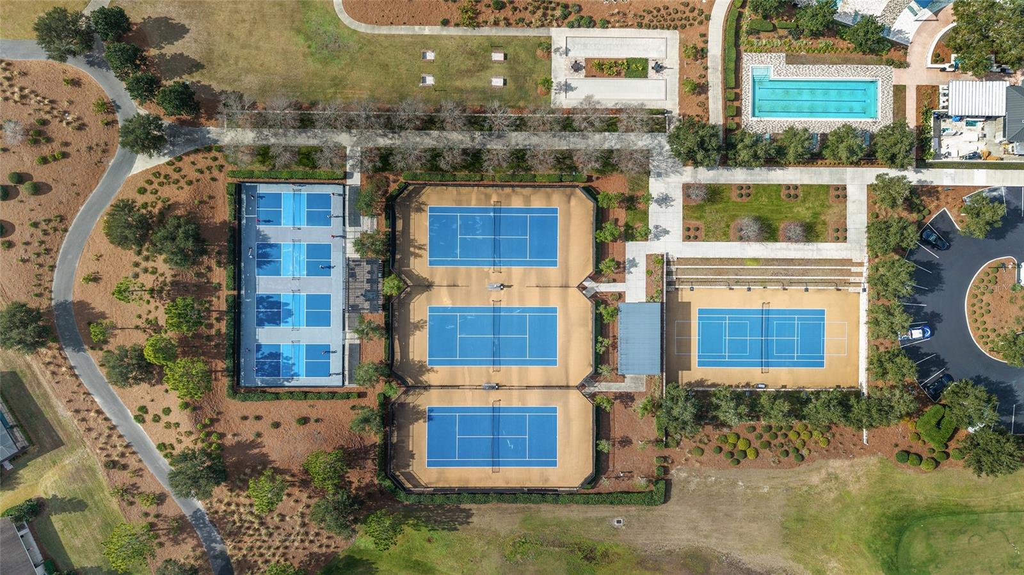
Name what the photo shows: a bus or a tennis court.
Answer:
tennis court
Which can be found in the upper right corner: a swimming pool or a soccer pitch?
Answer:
swimming pool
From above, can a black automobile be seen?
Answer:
Yes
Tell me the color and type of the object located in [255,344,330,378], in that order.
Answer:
blue sports court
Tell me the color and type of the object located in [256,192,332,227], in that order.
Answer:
blue sports court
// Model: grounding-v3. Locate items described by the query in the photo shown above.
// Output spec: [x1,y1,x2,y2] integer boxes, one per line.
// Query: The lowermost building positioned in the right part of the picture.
[615,303,661,375]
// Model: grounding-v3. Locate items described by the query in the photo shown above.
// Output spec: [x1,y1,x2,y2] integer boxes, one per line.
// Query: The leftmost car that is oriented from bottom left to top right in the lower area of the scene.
[924,375,952,398]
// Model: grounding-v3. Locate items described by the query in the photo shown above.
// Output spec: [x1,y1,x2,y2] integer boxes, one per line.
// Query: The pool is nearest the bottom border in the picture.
[742,52,893,133]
